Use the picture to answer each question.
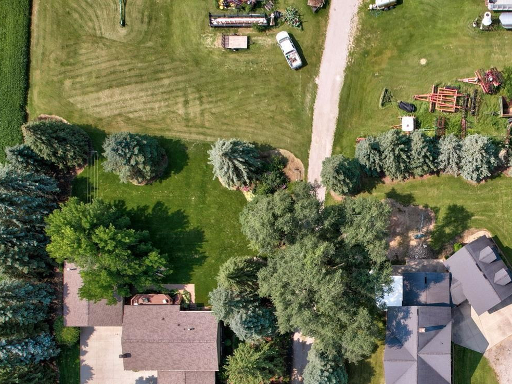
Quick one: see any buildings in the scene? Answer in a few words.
Yes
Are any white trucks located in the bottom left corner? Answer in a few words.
No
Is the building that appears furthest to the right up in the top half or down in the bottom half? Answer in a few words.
bottom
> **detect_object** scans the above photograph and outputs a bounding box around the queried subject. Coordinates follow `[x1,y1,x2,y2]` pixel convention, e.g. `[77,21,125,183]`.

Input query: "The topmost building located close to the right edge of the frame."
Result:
[443,234,512,316]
